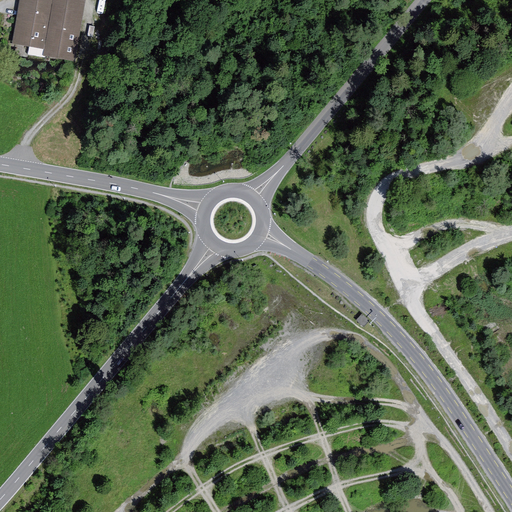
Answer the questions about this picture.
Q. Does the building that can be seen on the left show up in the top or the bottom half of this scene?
top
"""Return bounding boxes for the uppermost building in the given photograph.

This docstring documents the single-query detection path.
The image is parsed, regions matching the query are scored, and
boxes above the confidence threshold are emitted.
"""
[13,0,84,60]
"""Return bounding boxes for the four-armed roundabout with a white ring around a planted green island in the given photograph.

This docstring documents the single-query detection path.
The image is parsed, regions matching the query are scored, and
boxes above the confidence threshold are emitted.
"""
[196,182,270,258]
